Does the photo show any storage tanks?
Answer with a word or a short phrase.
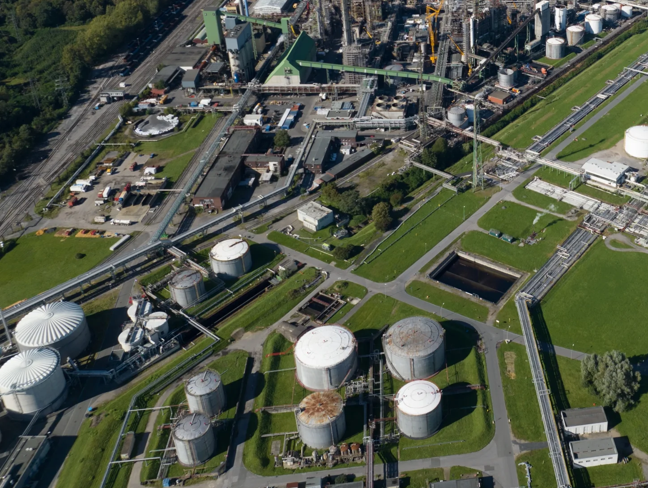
Yes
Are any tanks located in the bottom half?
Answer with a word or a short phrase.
Yes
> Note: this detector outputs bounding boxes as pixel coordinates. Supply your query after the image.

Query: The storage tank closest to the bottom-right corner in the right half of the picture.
[394,378,442,441]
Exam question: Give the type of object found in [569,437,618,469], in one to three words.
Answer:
building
